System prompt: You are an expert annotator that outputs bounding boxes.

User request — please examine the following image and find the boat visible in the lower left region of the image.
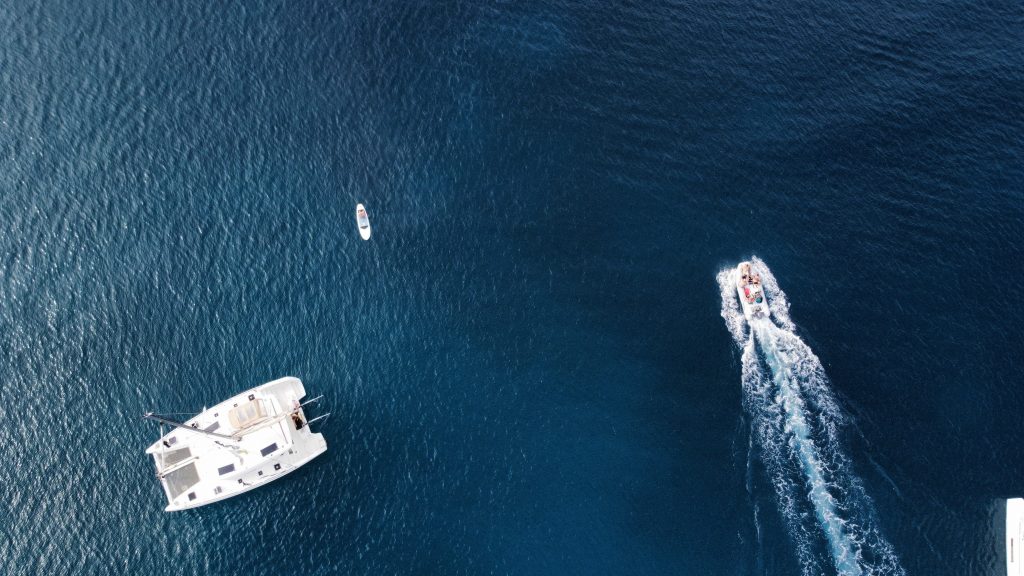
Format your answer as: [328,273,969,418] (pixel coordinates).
[135,379,329,514]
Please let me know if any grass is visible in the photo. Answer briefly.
No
